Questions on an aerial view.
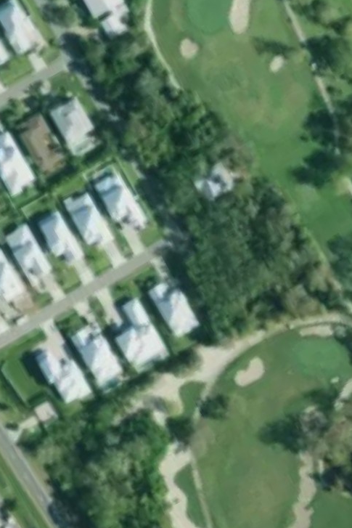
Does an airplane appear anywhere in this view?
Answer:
No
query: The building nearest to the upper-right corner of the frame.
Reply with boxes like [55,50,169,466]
[193,162,235,198]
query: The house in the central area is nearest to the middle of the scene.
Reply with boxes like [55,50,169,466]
[149,283,195,338]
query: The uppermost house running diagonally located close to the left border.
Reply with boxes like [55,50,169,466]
[0,0,44,58]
